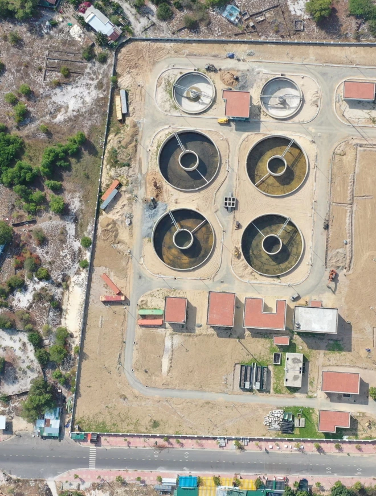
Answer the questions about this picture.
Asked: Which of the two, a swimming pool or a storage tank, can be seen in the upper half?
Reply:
storage tank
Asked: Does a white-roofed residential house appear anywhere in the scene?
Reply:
Yes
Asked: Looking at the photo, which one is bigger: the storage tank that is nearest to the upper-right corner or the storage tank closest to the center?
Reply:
the storage tank closest to the center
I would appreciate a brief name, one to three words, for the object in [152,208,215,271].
storage tank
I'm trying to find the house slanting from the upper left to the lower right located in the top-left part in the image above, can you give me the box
[80,5,123,43]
